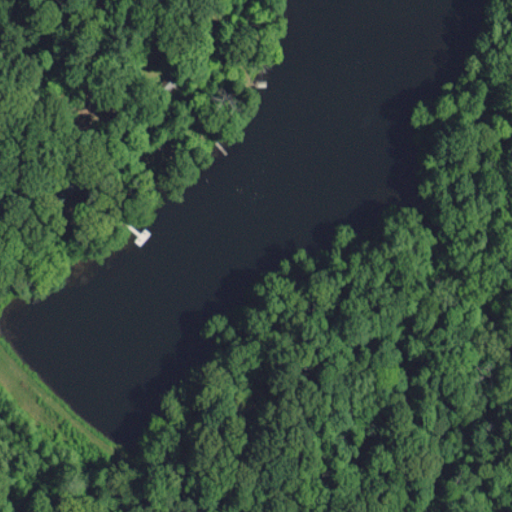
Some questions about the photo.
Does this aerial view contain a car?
No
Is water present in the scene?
Yes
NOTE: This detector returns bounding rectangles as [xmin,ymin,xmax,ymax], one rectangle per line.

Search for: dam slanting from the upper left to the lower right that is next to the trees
[0,344,118,496]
